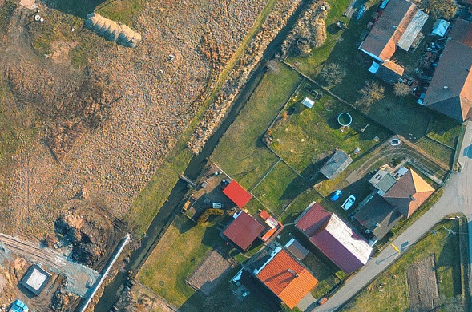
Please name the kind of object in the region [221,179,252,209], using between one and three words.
shed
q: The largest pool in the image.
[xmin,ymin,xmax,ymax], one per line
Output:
[338,113,353,127]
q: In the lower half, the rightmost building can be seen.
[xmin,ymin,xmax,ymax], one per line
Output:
[352,167,434,238]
